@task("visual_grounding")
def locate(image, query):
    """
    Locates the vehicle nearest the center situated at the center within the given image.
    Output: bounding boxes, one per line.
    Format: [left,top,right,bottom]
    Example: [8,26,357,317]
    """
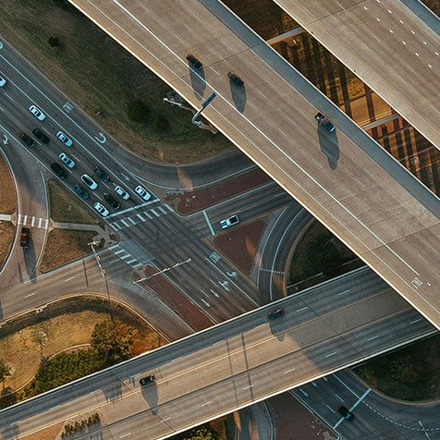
[220,215,241,228]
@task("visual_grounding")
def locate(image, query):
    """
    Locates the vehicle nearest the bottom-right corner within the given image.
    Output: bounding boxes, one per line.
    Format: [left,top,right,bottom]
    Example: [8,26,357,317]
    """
[338,406,353,422]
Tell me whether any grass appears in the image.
Yes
